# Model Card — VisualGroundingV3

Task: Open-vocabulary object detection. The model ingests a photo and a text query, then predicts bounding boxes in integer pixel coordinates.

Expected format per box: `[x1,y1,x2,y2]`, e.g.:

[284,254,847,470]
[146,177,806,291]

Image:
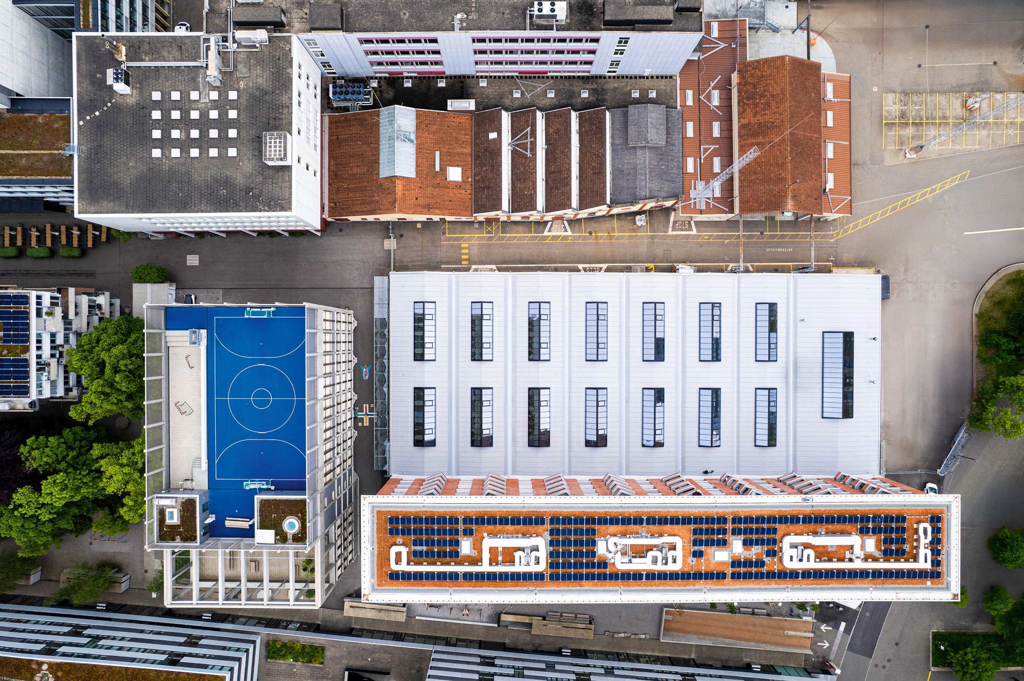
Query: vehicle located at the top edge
[174,17,186,31]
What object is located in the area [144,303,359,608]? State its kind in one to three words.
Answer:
building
